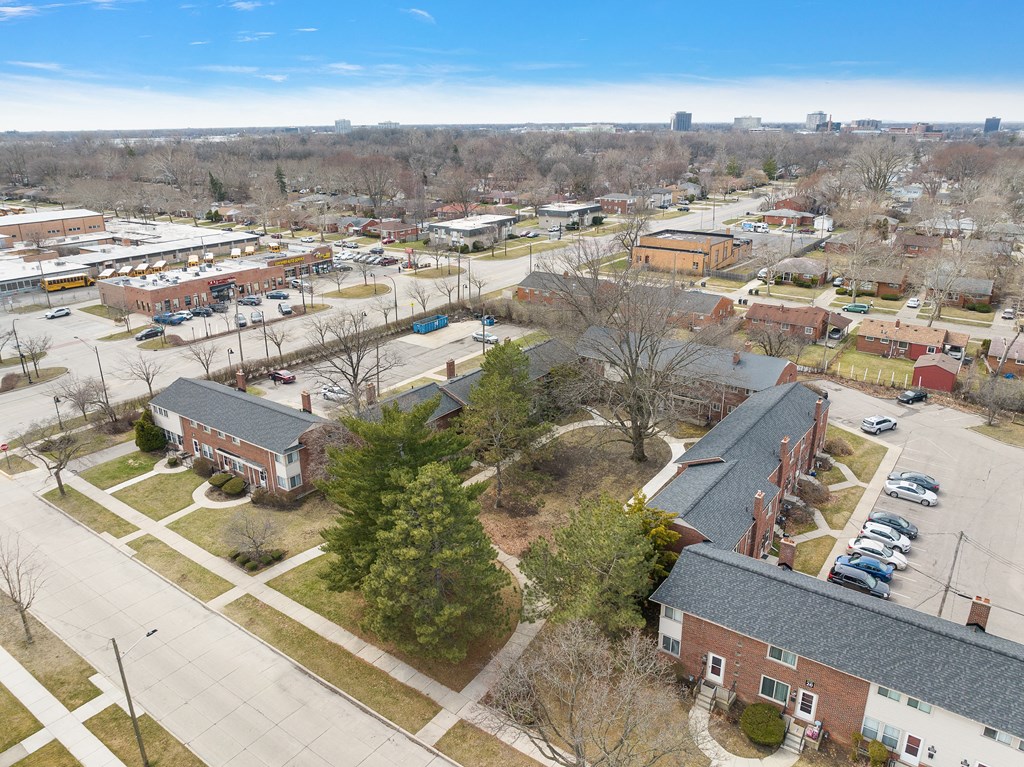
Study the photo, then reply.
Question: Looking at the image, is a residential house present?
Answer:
Yes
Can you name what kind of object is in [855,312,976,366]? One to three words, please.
house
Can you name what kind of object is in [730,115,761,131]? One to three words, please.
building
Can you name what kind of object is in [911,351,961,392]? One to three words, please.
shed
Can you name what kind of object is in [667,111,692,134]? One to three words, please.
building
